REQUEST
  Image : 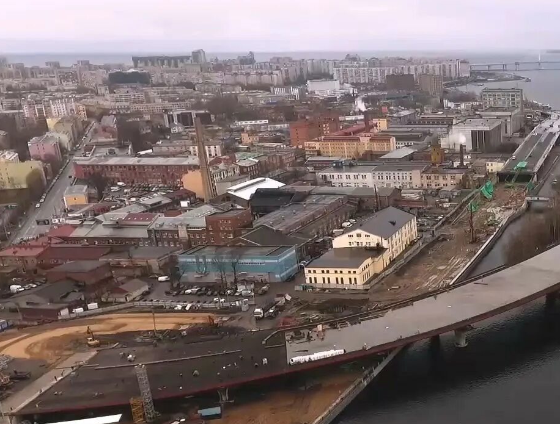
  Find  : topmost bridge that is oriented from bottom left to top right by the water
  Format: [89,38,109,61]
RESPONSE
[497,111,560,182]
